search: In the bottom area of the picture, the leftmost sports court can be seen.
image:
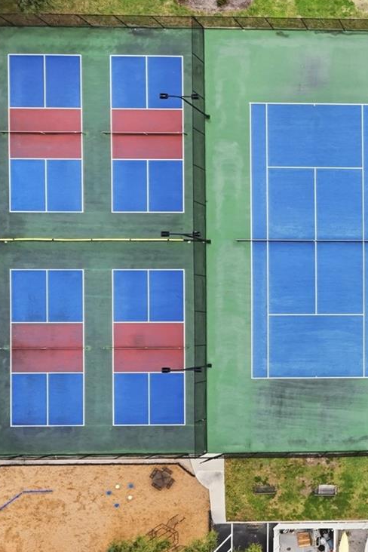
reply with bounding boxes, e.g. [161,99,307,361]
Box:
[9,269,84,427]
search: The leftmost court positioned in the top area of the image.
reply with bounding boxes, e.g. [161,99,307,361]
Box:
[8,54,83,212]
